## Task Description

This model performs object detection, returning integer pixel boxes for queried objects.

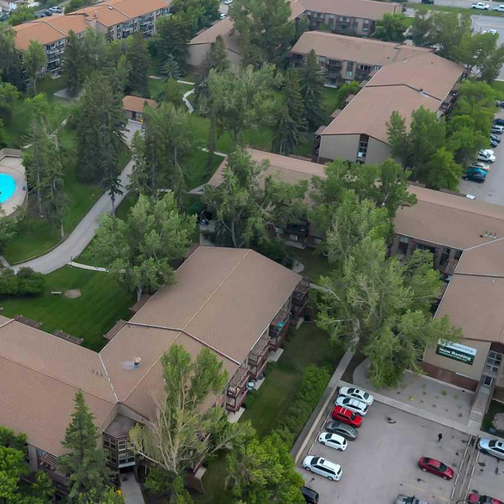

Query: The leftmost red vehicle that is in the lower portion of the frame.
[330,404,363,426]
